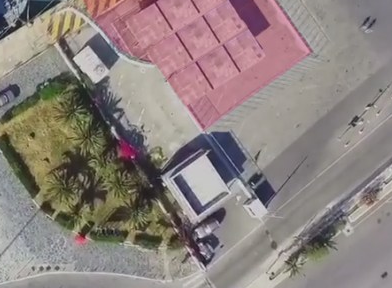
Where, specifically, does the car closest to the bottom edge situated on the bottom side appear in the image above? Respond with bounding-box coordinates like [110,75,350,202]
[194,238,217,261]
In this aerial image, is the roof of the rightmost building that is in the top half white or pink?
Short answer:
pink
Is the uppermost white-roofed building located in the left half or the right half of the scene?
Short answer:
left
